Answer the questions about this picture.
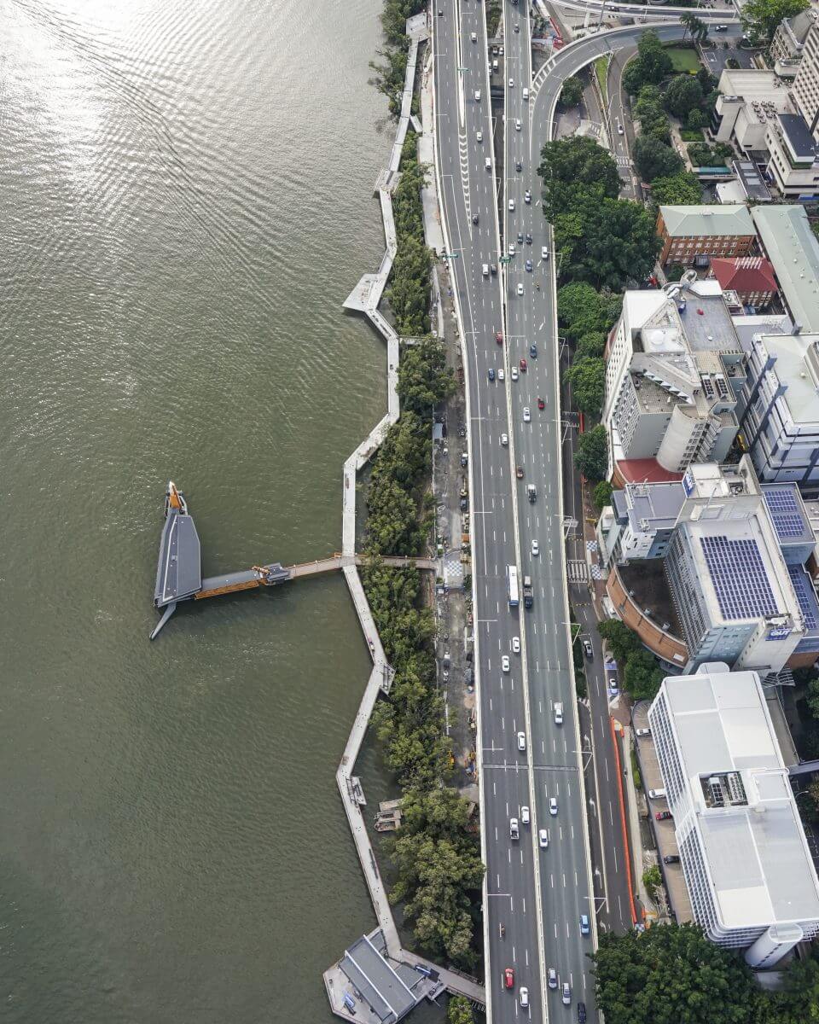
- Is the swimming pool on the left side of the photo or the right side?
right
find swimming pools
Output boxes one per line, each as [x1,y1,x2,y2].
[693,166,735,186]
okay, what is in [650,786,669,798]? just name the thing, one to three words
vehicle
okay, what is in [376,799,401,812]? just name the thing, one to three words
ship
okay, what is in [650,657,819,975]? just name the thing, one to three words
building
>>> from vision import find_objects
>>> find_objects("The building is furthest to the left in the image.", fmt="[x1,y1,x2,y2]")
[150,480,344,642]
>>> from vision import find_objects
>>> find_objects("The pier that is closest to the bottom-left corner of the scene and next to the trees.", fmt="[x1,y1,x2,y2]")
[323,925,445,1024]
